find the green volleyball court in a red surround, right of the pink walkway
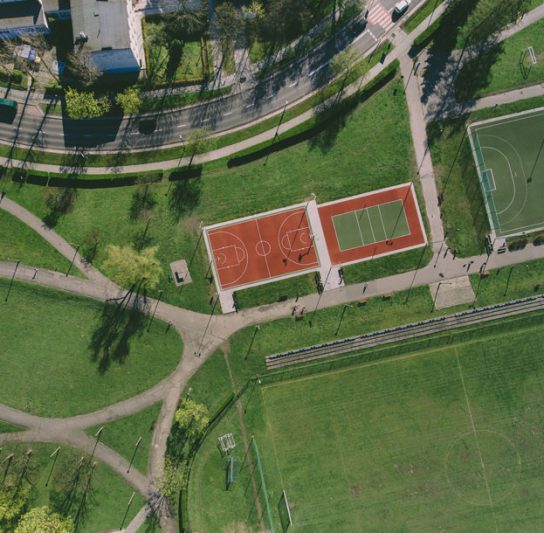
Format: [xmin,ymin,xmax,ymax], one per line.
[316,182,429,266]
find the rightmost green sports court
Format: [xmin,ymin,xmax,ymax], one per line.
[469,108,544,240]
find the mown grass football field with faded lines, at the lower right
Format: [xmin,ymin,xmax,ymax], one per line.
[251,322,544,533]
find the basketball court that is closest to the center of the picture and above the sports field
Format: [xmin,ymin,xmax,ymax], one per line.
[202,201,321,296]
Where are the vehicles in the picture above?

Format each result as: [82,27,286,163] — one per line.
[0,96,23,111]
[394,0,414,15]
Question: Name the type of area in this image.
sports ground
